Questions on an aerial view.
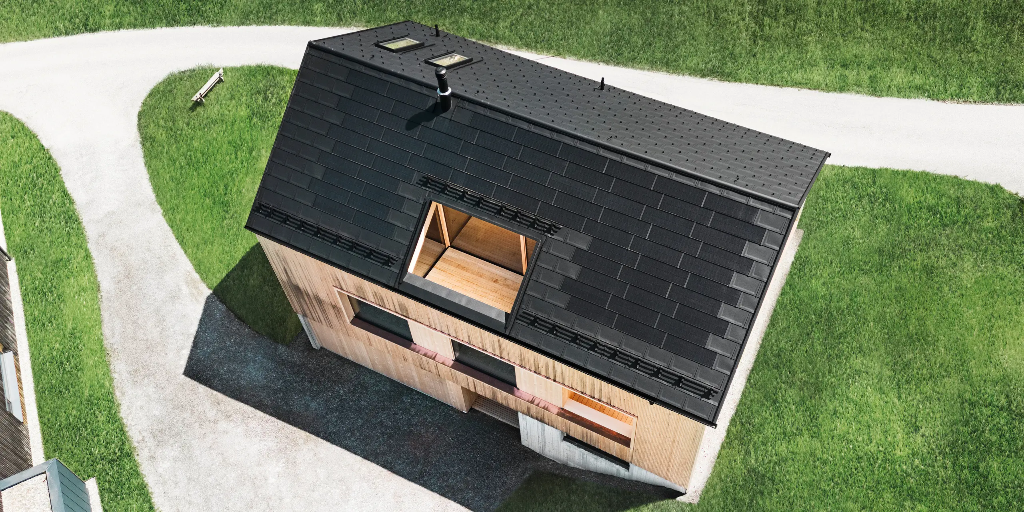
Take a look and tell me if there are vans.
No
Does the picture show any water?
No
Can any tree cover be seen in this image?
No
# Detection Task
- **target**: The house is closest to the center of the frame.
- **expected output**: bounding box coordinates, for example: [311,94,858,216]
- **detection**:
[242,18,830,492]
